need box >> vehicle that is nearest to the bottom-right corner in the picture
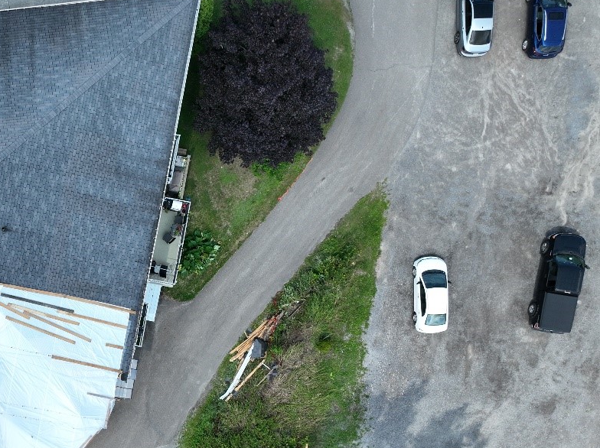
[533,232,590,335]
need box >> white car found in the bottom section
[411,257,453,333]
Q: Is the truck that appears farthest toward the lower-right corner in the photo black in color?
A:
Yes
